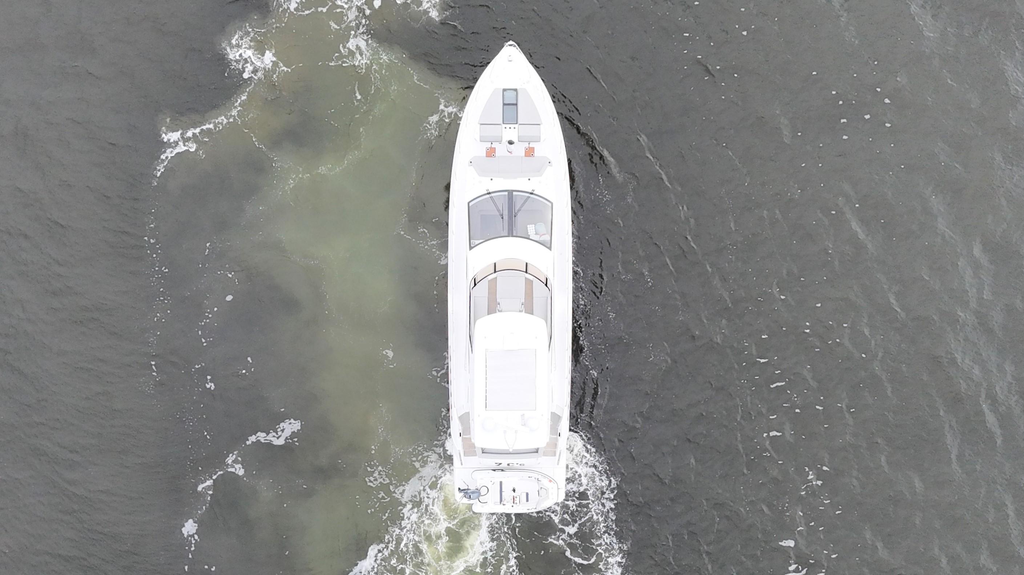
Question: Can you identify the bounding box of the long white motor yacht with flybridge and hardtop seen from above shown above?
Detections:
[448,40,572,503]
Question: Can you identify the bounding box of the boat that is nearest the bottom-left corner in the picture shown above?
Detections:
[458,469,558,514]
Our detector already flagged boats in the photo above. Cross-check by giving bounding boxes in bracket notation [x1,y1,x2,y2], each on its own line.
[458,469,558,514]
[448,40,572,503]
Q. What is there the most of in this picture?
water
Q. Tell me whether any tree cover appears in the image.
No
